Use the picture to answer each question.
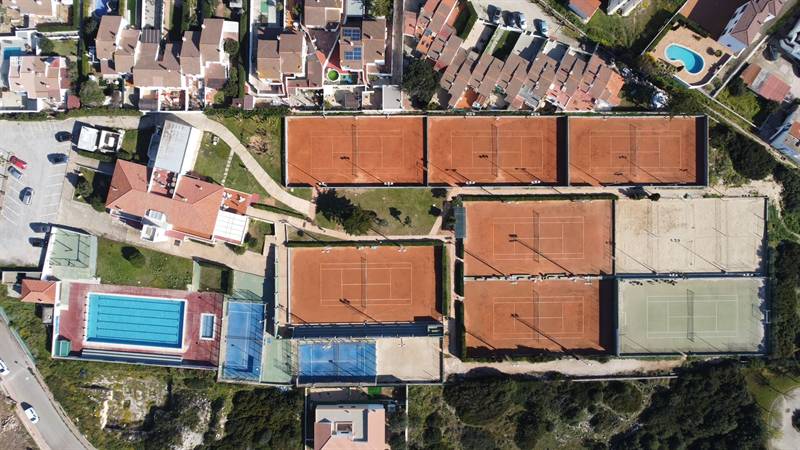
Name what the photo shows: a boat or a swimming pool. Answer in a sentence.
Of the two, only a swimming pool appears.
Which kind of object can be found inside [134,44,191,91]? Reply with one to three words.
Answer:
house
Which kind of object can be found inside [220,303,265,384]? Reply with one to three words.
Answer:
sports court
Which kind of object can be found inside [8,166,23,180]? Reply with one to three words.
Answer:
car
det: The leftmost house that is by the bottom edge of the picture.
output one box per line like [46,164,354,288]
[315,402,385,450]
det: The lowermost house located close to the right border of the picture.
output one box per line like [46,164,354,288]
[762,116,800,173]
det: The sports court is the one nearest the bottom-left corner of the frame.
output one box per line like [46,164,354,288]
[47,230,97,283]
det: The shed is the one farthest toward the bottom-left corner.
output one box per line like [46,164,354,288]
[55,338,76,356]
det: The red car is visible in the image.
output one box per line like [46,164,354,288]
[10,156,27,169]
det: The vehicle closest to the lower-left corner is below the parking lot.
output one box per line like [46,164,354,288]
[27,406,40,423]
